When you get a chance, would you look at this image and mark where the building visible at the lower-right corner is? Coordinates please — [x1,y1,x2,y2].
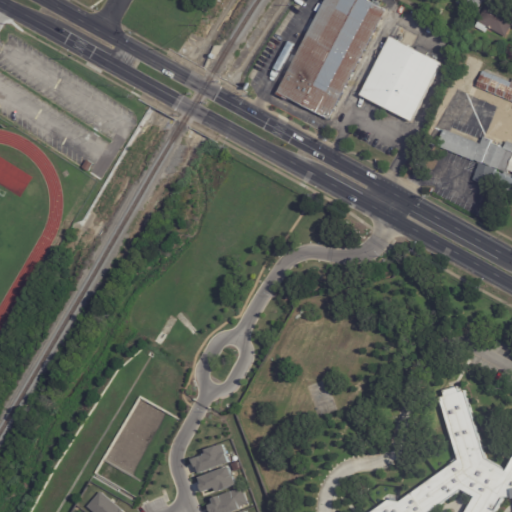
[370,387,512,512]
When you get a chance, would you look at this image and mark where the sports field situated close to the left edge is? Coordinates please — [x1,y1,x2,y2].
[0,144,48,287]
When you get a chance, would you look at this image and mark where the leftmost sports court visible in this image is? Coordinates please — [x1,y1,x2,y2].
[308,382,338,414]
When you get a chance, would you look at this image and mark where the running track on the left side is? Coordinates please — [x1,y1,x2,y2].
[0,130,63,314]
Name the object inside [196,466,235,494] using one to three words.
house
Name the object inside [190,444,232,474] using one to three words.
house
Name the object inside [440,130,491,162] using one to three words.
building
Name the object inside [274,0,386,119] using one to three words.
warehouse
